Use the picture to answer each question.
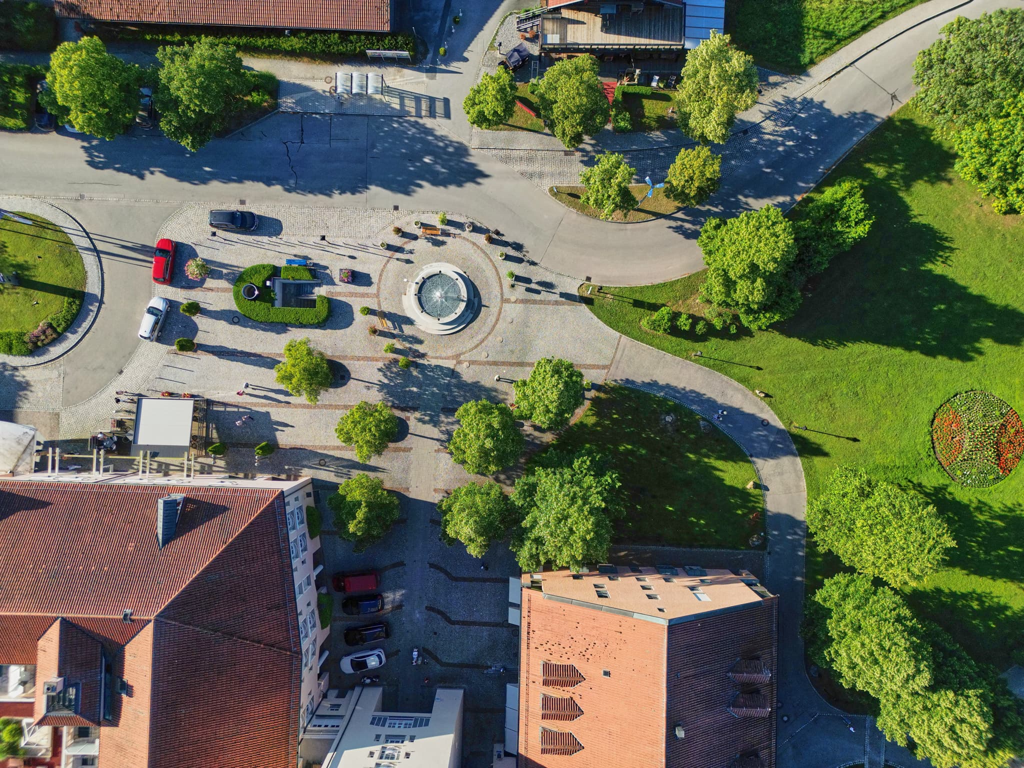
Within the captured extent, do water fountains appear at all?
Yes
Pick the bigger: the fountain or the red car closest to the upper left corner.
the fountain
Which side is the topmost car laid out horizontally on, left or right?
left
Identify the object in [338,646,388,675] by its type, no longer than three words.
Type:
car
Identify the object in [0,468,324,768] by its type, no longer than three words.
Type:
building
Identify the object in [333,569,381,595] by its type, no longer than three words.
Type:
vehicle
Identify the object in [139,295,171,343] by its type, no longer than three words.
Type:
car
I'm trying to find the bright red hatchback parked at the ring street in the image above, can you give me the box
[154,239,179,284]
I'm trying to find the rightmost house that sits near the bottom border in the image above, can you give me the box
[517,563,781,768]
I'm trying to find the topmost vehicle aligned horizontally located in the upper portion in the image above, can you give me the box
[207,209,259,233]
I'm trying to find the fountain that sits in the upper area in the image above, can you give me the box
[402,261,478,335]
